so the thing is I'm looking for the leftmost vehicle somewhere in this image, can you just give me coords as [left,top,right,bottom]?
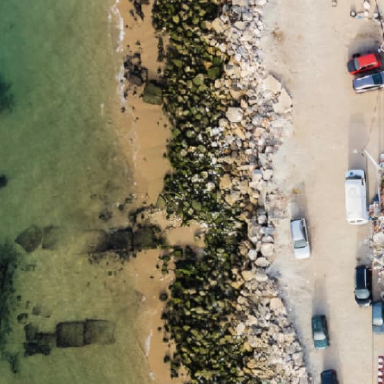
[291,218,312,258]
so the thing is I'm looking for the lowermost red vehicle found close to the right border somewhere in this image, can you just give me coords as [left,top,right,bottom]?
[347,54,384,74]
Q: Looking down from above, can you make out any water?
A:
Yes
